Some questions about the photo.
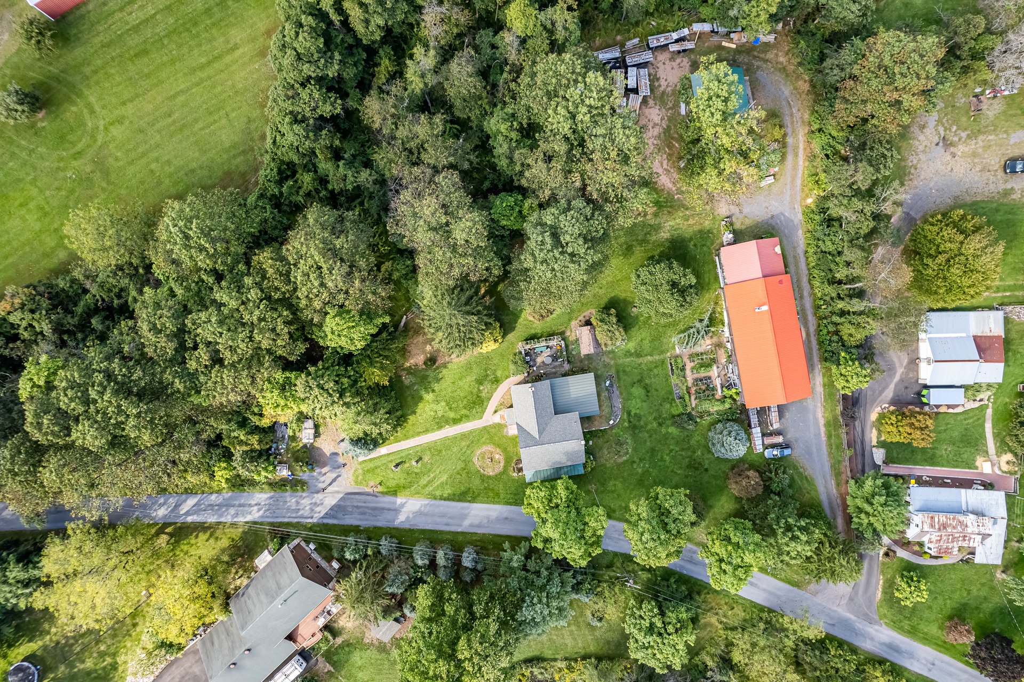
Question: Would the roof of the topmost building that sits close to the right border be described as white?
Yes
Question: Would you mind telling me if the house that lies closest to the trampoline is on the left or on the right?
left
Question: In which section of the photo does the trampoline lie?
bottom left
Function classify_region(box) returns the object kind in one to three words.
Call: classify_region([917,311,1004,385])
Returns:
building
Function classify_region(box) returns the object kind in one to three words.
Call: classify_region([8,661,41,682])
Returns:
trampoline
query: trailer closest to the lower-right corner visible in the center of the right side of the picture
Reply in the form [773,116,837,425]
[910,388,964,405]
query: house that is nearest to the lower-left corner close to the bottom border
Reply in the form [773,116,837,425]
[198,543,334,682]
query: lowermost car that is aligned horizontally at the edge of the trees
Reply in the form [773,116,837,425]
[766,448,793,460]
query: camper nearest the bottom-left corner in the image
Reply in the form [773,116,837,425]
[269,650,310,682]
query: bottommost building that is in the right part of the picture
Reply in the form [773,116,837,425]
[902,486,1007,565]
